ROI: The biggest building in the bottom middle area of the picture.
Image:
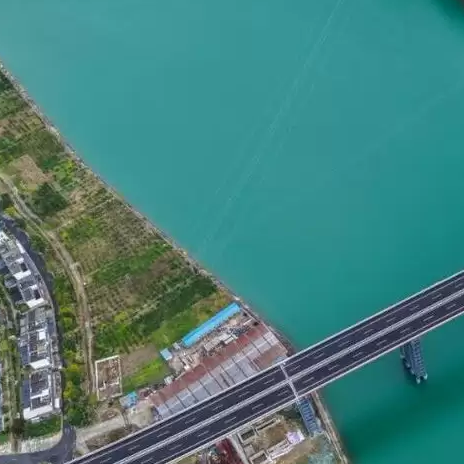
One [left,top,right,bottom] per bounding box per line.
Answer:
[148,321,293,417]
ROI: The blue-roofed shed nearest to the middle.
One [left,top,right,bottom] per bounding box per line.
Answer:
[182,302,243,349]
